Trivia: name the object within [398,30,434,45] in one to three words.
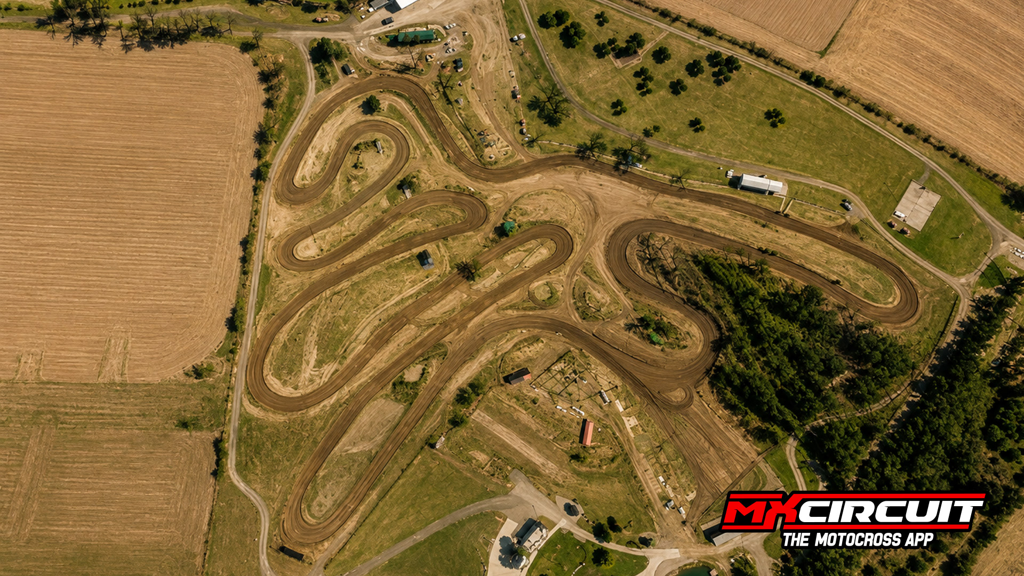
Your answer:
building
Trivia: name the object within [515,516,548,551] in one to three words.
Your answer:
house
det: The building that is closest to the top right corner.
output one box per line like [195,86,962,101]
[735,175,784,200]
